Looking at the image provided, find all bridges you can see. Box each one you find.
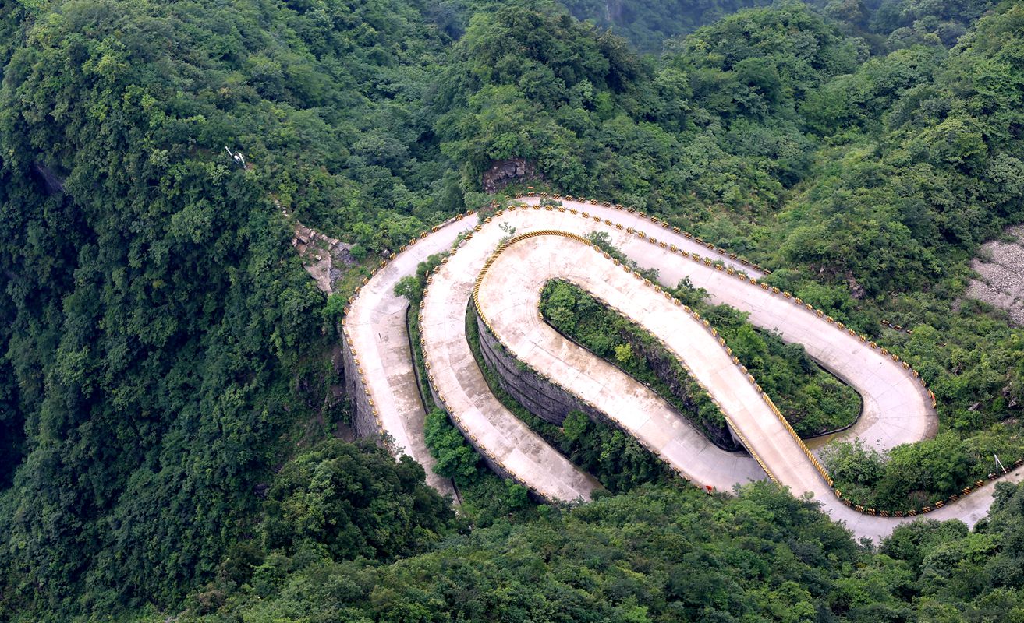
[721,417,789,508]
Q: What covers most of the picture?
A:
trees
